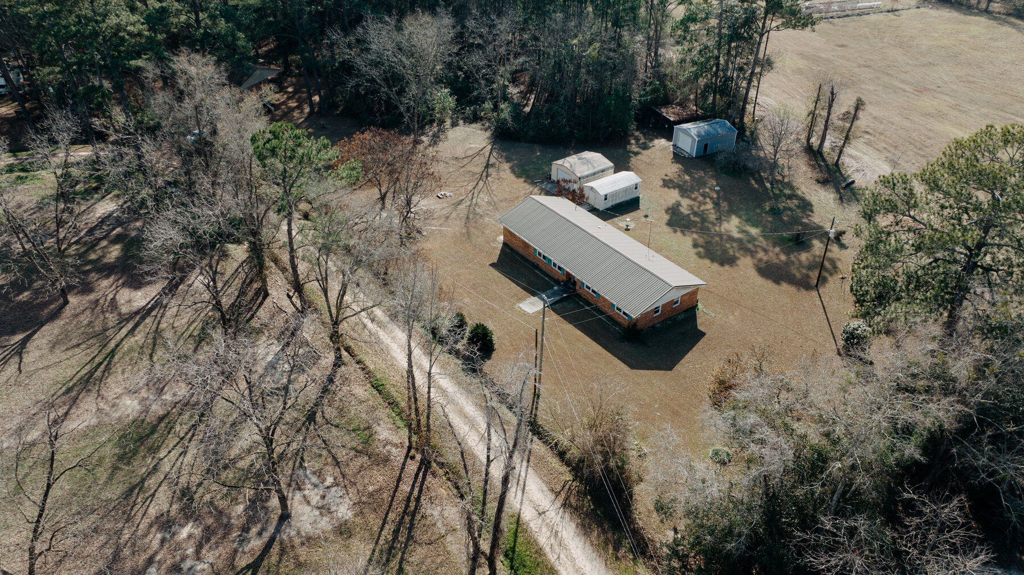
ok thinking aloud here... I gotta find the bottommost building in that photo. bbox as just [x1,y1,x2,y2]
[495,195,708,334]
